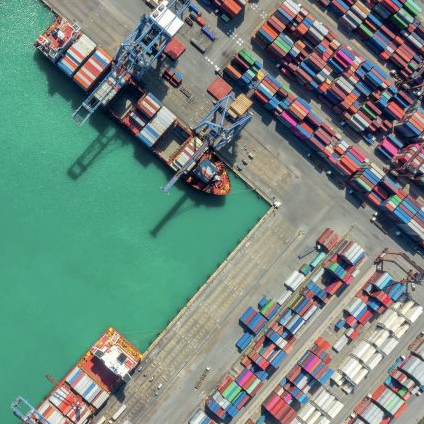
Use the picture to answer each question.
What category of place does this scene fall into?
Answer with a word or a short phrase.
port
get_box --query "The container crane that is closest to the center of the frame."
[163,75,267,192]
